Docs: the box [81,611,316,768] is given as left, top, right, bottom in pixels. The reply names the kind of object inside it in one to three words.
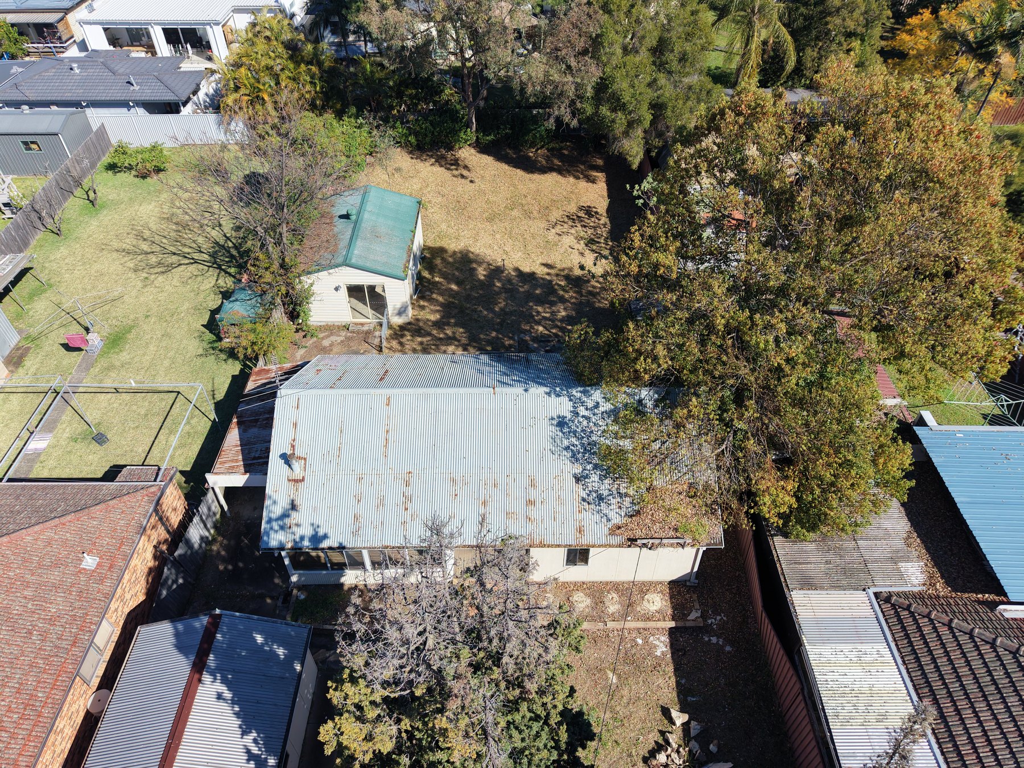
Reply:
building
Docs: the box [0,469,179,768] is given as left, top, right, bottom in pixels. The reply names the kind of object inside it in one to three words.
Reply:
house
